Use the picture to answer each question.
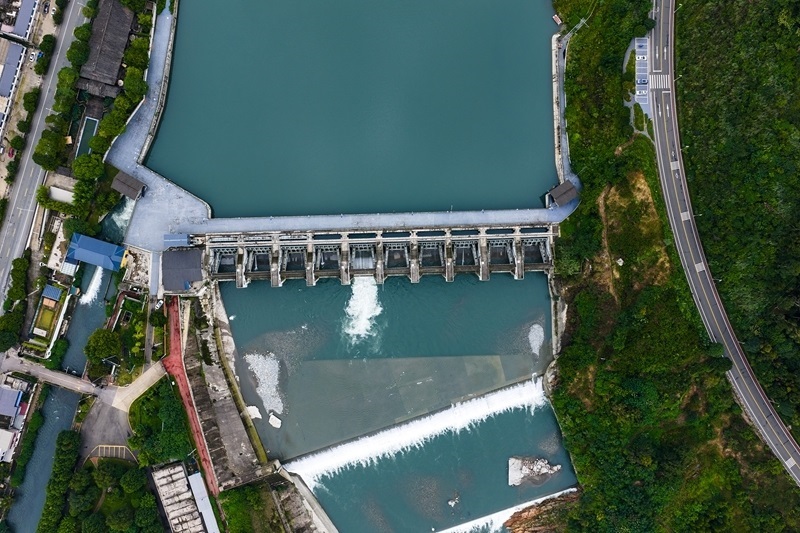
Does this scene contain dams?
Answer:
Yes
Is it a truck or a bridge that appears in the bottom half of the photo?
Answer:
bridge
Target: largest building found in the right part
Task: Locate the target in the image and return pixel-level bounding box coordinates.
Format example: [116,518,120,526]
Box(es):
[548,180,579,206]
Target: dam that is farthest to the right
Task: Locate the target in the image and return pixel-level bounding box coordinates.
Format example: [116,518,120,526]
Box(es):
[434,488,575,533]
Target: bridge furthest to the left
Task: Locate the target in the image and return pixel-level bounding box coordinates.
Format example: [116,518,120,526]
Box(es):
[15,356,93,395]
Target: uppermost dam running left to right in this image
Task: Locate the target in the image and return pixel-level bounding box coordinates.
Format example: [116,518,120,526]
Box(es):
[191,208,562,288]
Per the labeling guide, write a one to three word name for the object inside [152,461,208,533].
building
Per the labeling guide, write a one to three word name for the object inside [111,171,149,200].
building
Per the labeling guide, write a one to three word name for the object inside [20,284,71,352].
house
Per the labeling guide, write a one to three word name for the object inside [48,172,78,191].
house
